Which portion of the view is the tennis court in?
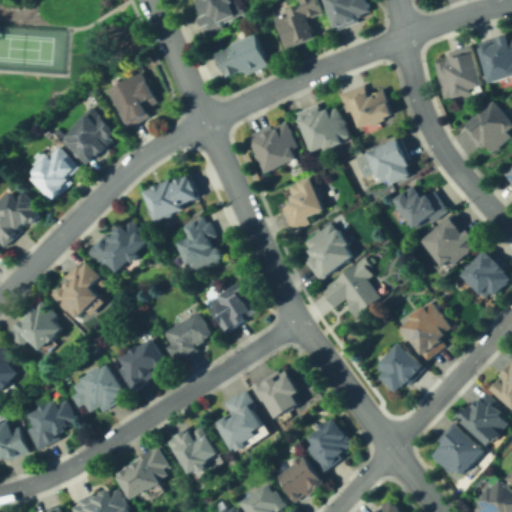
top left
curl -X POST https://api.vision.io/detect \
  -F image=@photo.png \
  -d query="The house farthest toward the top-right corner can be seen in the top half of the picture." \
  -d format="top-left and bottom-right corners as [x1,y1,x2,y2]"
[479,33,512,81]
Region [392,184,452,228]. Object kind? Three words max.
house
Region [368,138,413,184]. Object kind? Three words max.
house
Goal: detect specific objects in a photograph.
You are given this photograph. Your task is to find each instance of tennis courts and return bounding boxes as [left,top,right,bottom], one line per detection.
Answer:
[0,28,68,75]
